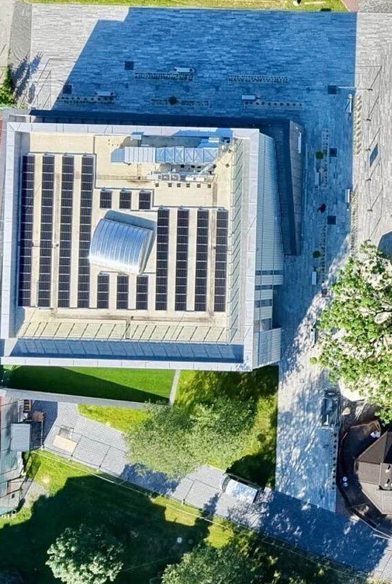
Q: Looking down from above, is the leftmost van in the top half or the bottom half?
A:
bottom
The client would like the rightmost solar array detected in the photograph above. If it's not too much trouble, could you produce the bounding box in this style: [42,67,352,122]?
[215,207,229,313]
